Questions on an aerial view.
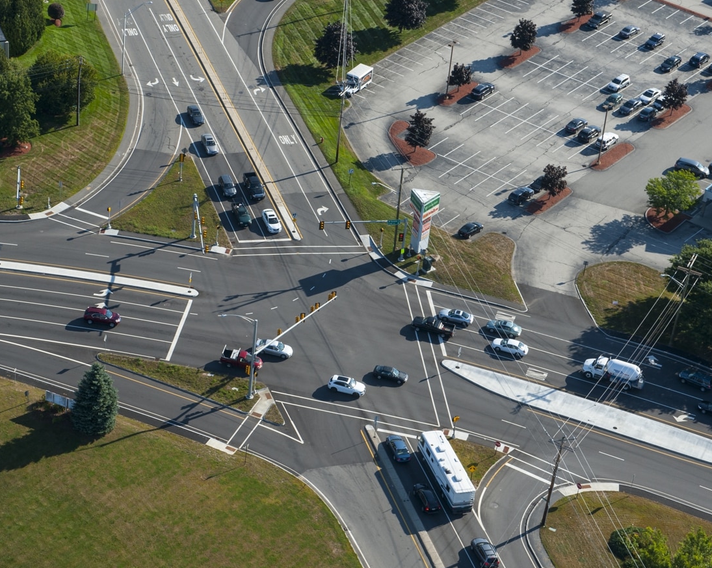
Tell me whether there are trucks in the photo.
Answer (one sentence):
Yes, a truck is visible in the scene.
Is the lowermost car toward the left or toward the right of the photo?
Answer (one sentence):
It is on the right.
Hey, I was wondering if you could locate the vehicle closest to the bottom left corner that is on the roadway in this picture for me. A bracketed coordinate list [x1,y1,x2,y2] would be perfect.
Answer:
[83,304,122,327]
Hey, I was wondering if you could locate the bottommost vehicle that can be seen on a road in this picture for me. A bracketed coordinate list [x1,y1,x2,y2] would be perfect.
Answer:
[472,539,499,568]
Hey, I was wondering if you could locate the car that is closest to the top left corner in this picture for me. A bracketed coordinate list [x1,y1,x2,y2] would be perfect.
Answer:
[187,105,205,125]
